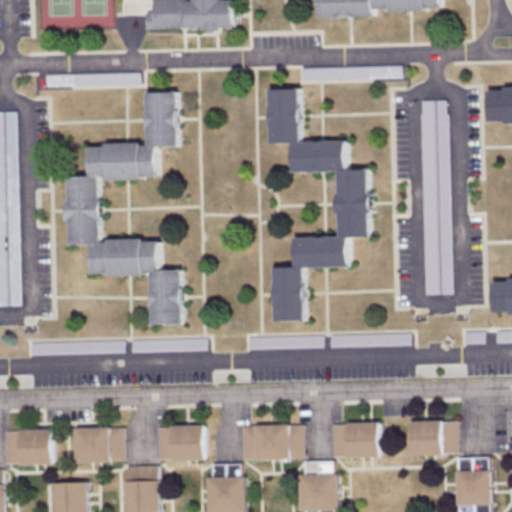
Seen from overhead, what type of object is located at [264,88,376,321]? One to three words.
building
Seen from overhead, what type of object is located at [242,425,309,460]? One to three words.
house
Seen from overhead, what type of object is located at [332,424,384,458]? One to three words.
house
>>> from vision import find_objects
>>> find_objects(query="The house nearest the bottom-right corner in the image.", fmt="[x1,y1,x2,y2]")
[456,456,495,512]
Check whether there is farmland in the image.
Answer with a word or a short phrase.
No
